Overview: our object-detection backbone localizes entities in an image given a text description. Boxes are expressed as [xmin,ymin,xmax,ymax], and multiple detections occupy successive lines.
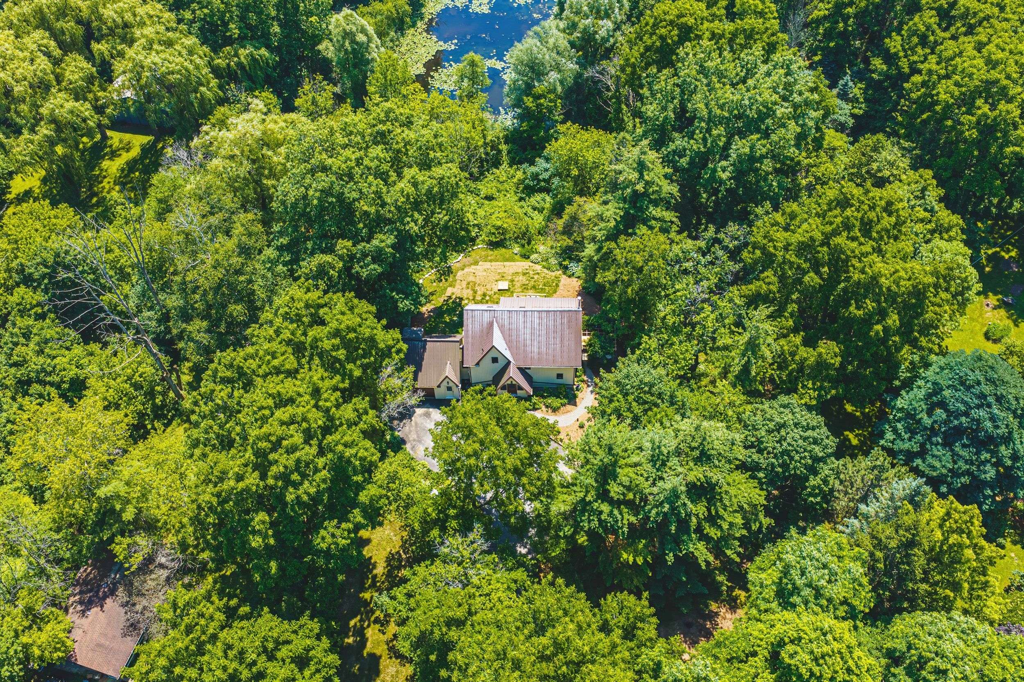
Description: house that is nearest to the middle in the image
[460,294,583,400]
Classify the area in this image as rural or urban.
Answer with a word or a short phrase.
rural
